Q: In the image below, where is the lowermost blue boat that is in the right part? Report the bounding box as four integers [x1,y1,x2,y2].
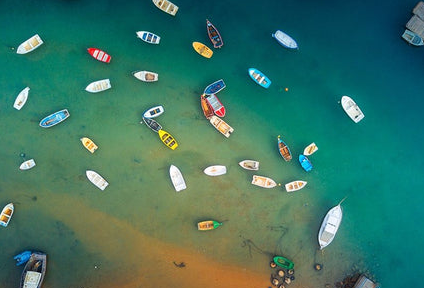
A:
[299,155,313,173]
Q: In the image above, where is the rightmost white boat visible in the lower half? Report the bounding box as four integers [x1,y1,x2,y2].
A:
[319,194,345,250]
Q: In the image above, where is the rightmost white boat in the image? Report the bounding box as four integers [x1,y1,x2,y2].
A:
[342,96,366,123]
